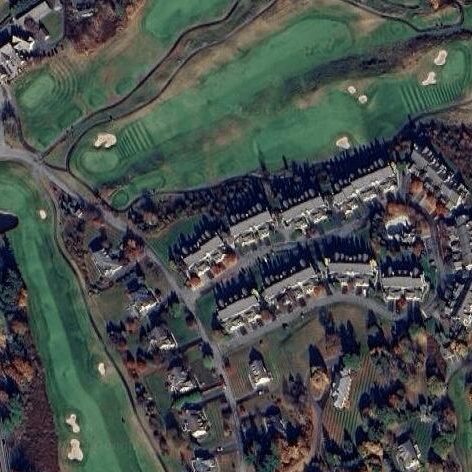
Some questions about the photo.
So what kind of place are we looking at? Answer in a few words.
golf course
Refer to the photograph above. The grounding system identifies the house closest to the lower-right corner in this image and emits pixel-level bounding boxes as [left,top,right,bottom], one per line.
[396,441,421,472]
